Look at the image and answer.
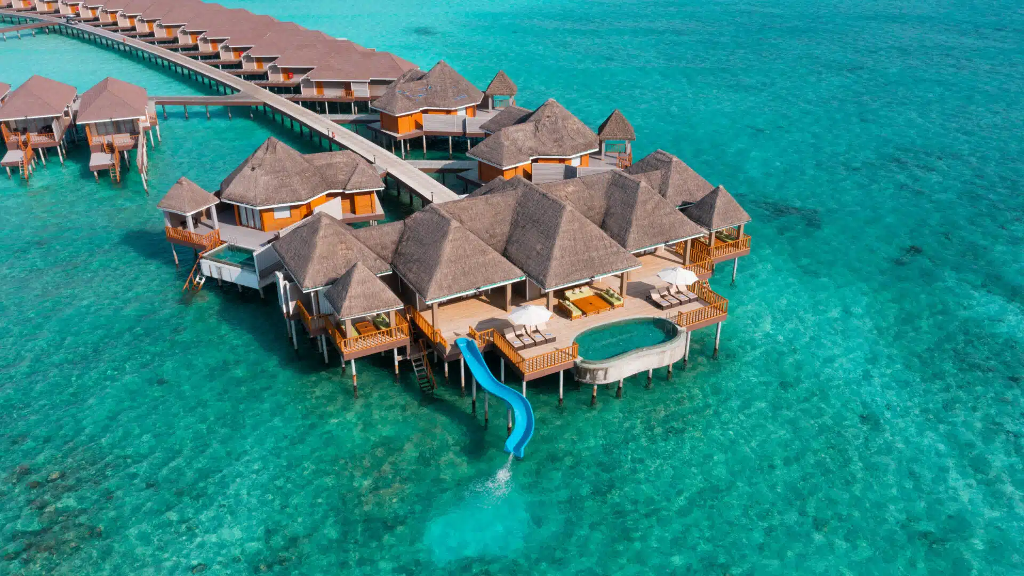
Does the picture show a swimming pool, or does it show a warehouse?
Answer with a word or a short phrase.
swimming pool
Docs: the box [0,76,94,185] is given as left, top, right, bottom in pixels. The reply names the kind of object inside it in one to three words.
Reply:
house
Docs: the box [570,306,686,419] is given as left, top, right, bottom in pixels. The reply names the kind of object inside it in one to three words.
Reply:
swimming pool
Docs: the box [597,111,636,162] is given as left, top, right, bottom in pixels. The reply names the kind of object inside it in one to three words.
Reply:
gazebo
